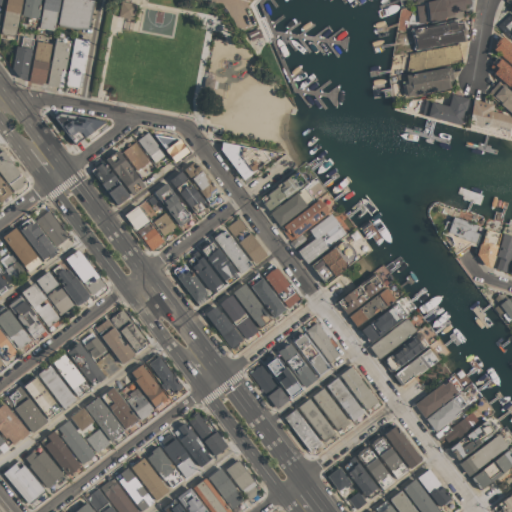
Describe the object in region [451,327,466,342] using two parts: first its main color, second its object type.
white boat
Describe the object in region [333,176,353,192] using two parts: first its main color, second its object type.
white boat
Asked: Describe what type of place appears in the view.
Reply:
residential area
